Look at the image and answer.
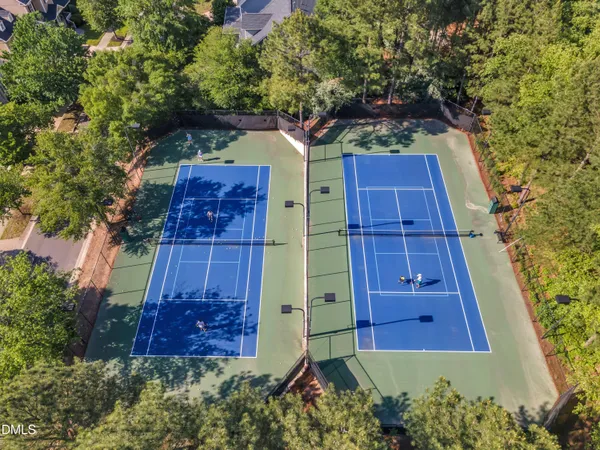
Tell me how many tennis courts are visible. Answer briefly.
two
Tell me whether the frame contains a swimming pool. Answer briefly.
No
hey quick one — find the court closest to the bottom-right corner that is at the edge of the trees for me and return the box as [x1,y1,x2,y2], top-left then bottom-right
[308,118,550,426]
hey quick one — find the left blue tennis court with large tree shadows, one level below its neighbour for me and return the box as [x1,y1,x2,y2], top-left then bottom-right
[77,129,304,431]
